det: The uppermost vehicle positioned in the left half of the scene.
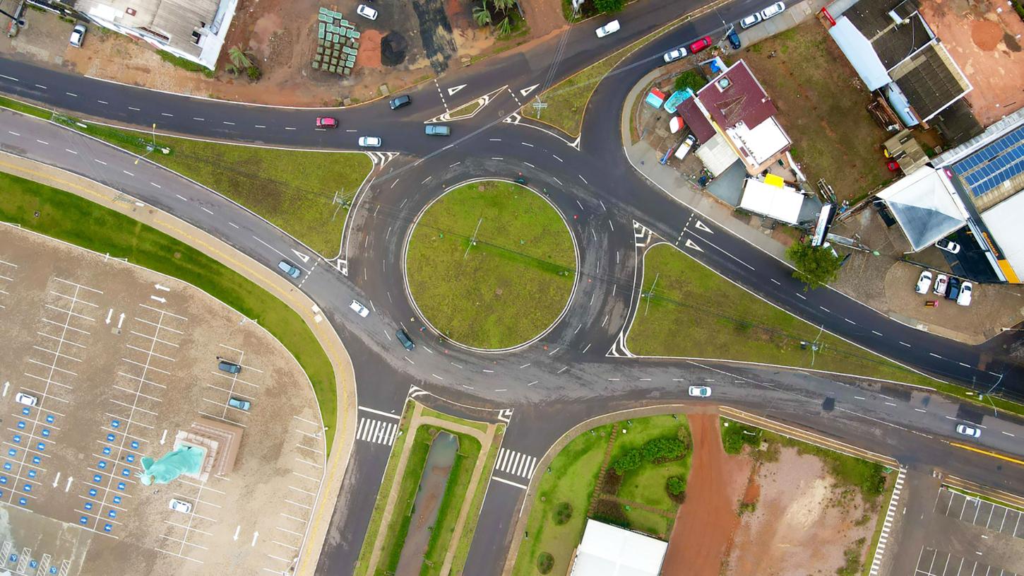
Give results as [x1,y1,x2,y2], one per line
[355,3,378,19]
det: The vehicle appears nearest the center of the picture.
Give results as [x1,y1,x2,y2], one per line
[395,328,413,350]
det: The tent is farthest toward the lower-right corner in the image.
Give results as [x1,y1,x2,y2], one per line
[572,519,668,576]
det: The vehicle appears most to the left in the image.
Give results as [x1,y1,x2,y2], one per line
[13,394,36,406]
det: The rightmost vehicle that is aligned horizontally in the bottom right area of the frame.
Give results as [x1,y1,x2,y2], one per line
[958,424,982,437]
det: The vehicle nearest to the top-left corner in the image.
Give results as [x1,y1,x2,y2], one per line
[67,22,84,47]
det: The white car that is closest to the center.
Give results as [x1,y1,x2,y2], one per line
[347,300,369,316]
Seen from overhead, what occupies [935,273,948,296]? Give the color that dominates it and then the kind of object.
white vehicle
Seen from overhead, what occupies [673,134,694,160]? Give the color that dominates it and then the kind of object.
white vehicle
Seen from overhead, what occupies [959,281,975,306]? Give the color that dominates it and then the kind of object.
white car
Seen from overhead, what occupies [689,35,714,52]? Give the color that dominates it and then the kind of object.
red car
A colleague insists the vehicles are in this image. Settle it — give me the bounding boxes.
[937,238,962,253]
[959,281,975,306]
[315,116,336,127]
[689,386,711,397]
[740,11,762,27]
[958,424,982,437]
[949,277,961,301]
[689,35,714,52]
[276,260,299,277]
[216,361,239,373]
[355,3,378,19]
[728,27,741,49]
[358,135,379,146]
[760,0,787,18]
[663,47,688,61]
[169,501,190,513]
[388,94,410,108]
[673,134,694,160]
[13,394,36,406]
[935,273,948,296]
[425,124,449,135]
[886,160,899,169]
[347,300,369,316]
[595,20,619,36]
[395,328,413,350]
[67,22,84,47]
[917,271,933,294]
[880,203,900,230]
